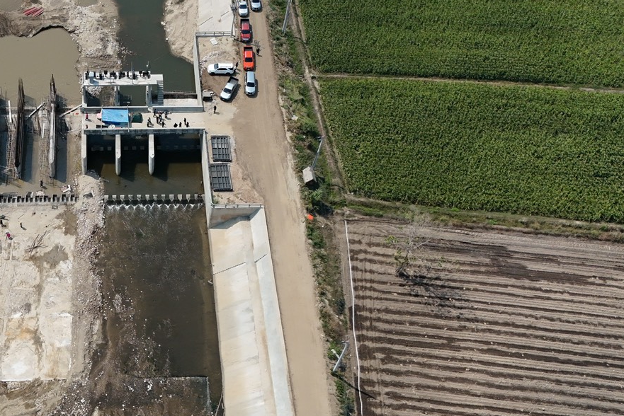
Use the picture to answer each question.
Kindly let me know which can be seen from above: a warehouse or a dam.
dam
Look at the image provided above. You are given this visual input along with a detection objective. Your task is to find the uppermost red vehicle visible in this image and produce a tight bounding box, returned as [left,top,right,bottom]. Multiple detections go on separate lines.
[239,16,252,41]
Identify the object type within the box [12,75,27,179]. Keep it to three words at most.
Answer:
pier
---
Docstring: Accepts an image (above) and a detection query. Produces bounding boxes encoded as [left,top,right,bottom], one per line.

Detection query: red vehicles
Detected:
[242,45,256,68]
[239,16,252,41]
